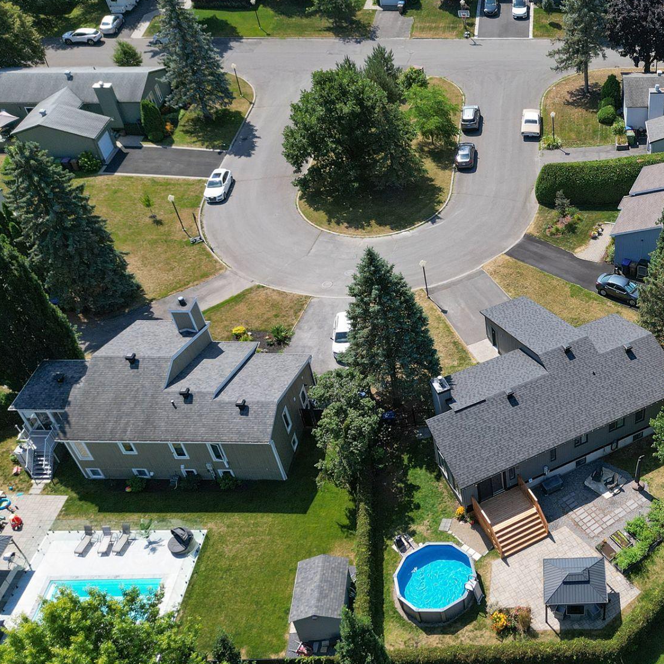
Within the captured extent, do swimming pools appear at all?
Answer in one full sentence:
Yes, the photo shows a swimming pool.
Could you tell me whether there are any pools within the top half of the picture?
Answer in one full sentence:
No, within the top half of the picture there is no pool.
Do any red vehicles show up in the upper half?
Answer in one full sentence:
No, there's no red vehicle to be seen in the upper half.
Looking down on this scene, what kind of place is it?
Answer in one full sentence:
The picture captures a residential area.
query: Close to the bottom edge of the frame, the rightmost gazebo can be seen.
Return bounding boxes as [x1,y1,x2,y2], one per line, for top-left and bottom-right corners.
[542,558,608,632]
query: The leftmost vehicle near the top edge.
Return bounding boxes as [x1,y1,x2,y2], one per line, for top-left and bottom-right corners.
[62,25,105,43]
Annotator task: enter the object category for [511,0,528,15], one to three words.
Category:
car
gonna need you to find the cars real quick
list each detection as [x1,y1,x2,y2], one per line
[327,308,363,361]
[591,271,655,306]
[511,0,528,15]
[451,144,478,171]
[460,107,481,132]
[142,28,180,45]
[197,170,239,203]
[482,0,498,14]
[62,25,105,43]
[520,112,542,139]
